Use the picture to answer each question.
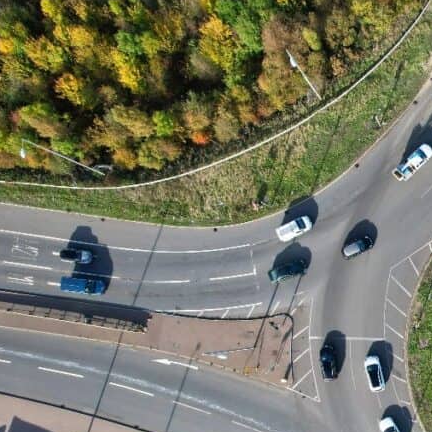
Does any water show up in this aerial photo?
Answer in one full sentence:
No, the scene doesn't show any water.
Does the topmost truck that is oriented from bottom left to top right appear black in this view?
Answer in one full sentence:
No, the color of the topmost truck that is oriented from bottom left to top right is white.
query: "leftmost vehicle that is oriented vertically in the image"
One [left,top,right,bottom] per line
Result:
[319,343,338,381]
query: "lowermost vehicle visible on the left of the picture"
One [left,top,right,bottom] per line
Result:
[60,276,107,295]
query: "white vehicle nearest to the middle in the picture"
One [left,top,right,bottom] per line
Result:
[273,216,315,243]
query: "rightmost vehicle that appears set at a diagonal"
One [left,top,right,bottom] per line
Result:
[393,145,432,182]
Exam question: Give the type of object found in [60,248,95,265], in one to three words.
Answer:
car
